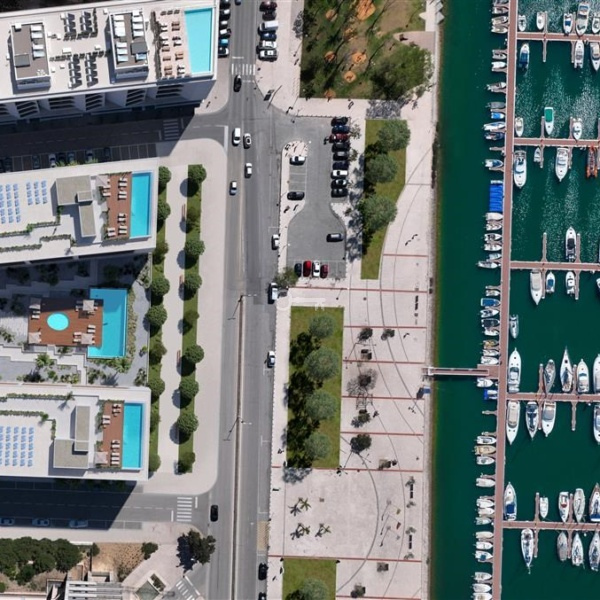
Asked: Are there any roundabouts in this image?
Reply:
No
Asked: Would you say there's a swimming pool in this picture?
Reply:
Yes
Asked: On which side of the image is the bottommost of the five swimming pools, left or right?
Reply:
left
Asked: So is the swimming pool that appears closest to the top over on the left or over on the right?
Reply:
left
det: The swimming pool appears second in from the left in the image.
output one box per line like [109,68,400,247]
[87,288,128,359]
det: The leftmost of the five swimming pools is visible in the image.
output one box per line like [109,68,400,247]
[46,311,70,330]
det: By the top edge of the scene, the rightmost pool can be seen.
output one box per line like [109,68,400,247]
[182,6,214,76]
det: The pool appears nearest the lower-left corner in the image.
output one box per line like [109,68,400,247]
[120,401,145,469]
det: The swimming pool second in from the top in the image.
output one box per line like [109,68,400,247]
[128,172,154,239]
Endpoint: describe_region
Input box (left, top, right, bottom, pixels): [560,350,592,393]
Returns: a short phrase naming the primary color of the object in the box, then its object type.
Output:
white boat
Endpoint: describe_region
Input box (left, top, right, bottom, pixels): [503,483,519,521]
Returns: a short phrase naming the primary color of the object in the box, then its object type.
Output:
white boat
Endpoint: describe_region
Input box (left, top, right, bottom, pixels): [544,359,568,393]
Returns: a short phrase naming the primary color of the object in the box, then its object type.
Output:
gray boat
